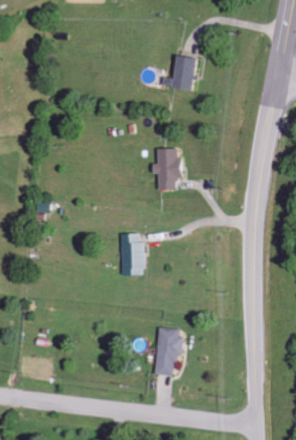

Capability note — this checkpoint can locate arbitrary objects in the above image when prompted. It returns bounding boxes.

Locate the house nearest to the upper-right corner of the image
[162,56,198,90]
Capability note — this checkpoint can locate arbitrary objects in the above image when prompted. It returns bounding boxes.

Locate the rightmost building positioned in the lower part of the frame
[155,328,182,376]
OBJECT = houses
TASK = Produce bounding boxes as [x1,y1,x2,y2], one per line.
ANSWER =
[152,149,181,190]
[162,56,198,90]
[121,234,149,276]
[155,328,182,376]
